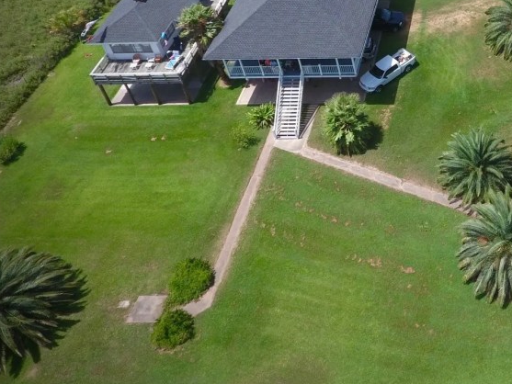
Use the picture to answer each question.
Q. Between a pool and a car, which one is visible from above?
car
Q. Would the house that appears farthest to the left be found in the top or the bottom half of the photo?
top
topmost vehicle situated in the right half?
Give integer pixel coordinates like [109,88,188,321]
[371,10,406,37]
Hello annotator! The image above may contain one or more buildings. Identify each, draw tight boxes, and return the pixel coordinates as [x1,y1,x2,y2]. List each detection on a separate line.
[85,0,237,105]
[204,0,388,137]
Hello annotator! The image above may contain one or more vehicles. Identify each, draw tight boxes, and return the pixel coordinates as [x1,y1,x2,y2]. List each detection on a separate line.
[359,31,379,68]
[371,10,406,37]
[356,46,422,94]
